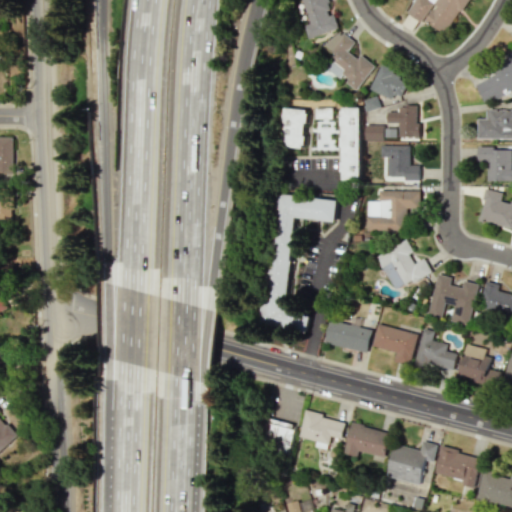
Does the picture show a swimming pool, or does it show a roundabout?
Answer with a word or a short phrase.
swimming pool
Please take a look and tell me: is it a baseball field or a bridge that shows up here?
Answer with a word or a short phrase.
bridge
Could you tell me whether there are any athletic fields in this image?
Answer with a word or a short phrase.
No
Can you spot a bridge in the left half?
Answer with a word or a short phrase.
Yes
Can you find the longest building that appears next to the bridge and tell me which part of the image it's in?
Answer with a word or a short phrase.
center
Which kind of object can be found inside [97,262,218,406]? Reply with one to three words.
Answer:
bridge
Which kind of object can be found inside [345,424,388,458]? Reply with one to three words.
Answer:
house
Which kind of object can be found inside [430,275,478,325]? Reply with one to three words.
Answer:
house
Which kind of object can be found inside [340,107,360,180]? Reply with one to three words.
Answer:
building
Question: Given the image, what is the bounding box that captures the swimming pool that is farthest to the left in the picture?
[309,66,338,90]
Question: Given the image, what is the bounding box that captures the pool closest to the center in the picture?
[375,280,409,301]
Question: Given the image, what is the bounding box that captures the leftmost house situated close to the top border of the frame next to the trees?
[302,0,338,38]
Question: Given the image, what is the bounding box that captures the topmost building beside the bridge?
[262,194,336,325]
